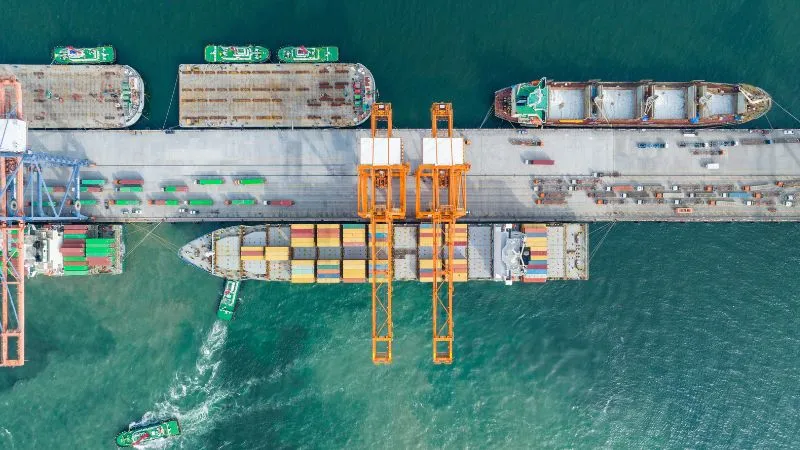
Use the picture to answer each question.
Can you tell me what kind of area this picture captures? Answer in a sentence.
It's a port.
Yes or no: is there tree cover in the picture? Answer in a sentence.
No, there's no tree cover in this view.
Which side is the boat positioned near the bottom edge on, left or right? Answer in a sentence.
You can find the boat positioned near the bottom edge on the left side of the picture.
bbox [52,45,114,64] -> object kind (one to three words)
boat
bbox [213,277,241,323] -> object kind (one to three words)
boat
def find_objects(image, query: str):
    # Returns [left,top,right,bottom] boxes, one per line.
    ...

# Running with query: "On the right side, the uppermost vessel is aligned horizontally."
[495,77,773,128]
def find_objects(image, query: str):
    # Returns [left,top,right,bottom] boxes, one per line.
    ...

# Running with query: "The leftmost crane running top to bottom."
[0,77,94,367]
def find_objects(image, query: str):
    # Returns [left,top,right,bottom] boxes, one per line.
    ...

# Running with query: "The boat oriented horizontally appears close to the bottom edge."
[113,417,182,447]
